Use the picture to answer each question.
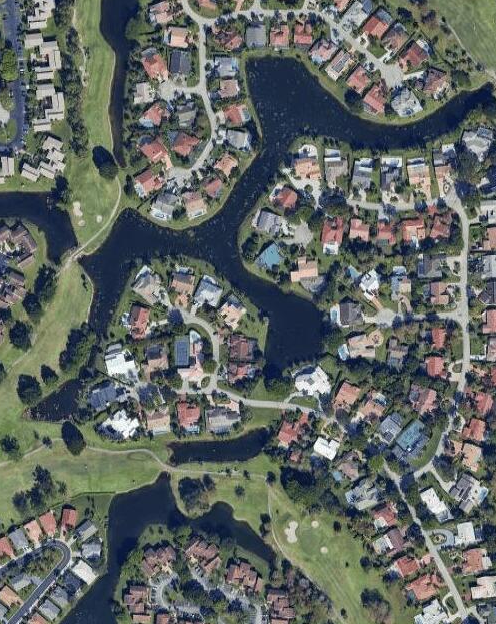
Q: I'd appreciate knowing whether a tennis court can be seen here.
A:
Yes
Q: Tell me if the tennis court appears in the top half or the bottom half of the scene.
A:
bottom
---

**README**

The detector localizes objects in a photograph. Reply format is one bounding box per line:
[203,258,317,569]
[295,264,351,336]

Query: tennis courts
[397,419,424,450]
